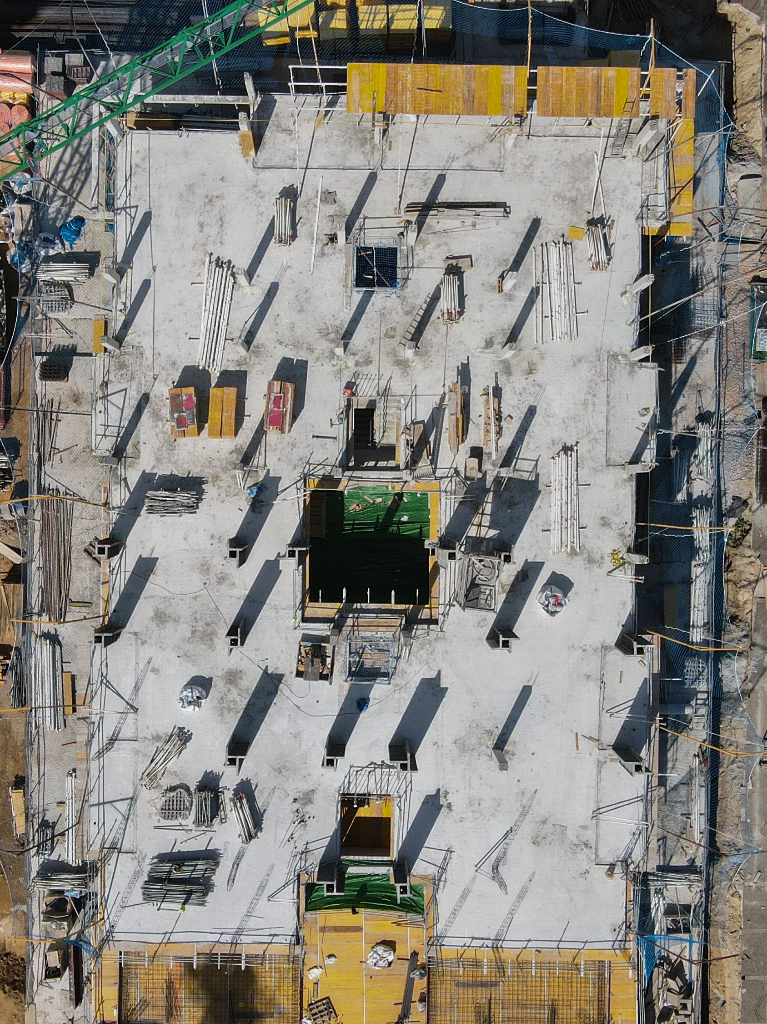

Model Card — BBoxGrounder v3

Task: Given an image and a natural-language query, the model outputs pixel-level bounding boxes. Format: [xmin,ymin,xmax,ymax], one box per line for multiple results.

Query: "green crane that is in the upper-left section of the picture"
[0,0,321,183]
